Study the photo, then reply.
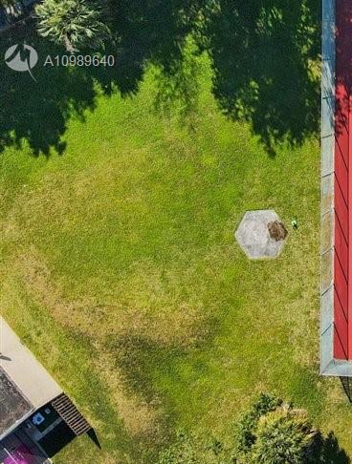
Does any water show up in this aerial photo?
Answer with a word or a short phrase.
No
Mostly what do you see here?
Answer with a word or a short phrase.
grass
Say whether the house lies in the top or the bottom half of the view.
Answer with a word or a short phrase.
bottom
